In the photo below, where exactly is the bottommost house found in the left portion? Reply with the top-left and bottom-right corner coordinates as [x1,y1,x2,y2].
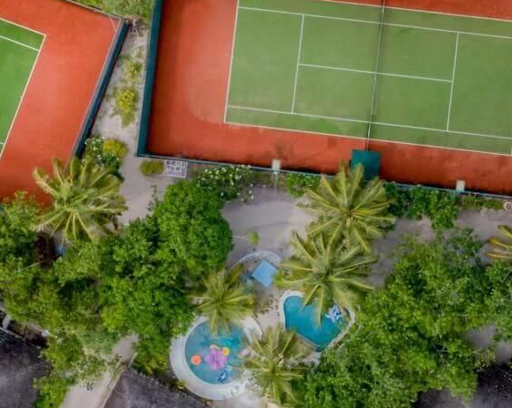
[106,367,207,408]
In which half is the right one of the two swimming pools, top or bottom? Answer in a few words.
bottom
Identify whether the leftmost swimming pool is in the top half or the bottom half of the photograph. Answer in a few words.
bottom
